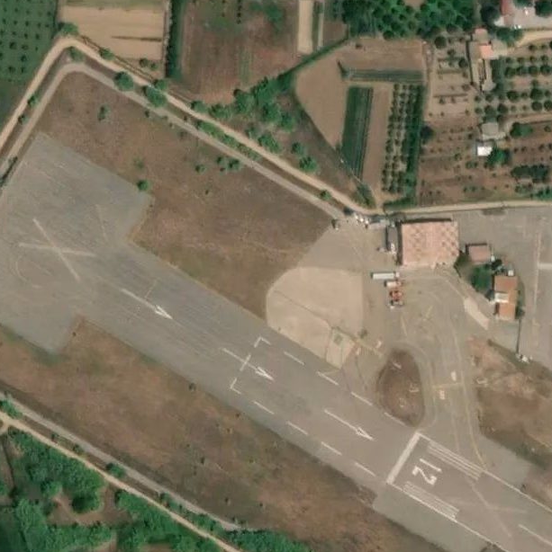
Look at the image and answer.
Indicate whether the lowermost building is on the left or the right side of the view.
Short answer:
right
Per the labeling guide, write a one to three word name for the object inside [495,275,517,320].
building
